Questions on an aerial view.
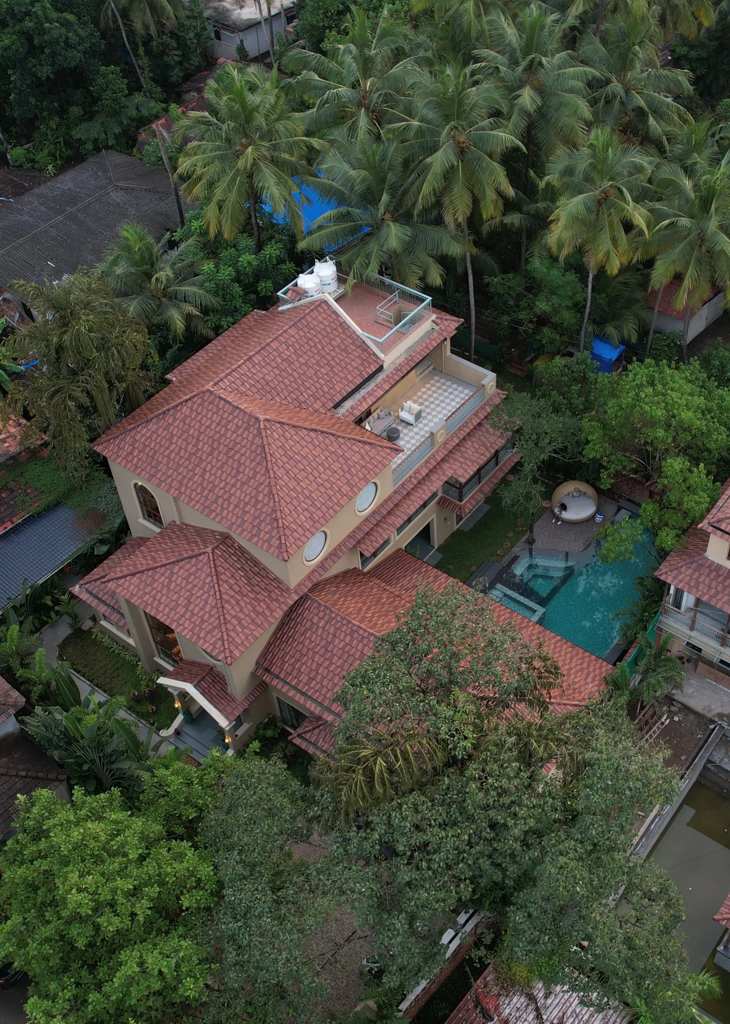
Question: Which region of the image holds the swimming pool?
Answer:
right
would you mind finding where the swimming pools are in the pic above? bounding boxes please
[473,498,691,660]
